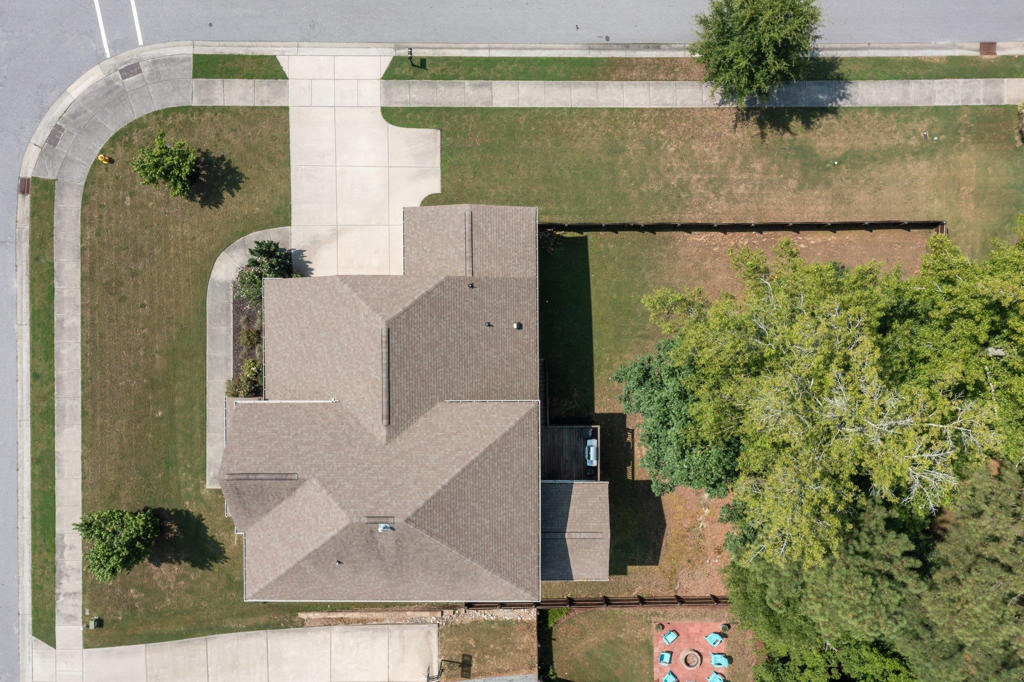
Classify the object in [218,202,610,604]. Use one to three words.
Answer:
house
